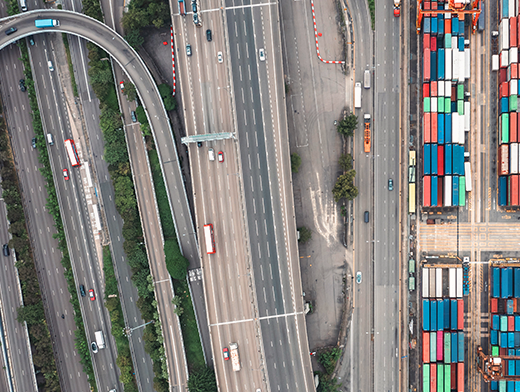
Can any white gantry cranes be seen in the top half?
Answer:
No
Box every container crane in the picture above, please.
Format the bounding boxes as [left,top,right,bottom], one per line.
[480,343,520,383]
[416,0,482,29]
